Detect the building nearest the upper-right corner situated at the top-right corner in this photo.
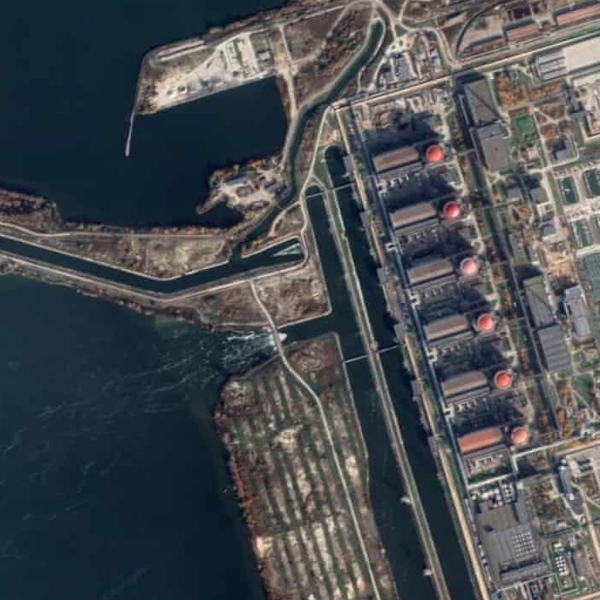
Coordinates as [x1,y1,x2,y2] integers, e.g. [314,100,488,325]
[556,4,600,25]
